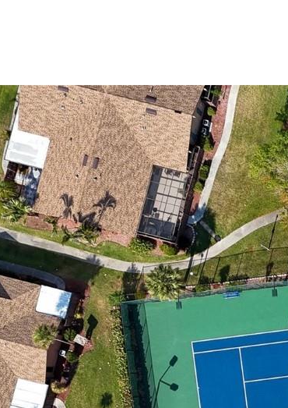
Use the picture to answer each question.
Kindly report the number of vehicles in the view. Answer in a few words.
0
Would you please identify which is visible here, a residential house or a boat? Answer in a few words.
residential house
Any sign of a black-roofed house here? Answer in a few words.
No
